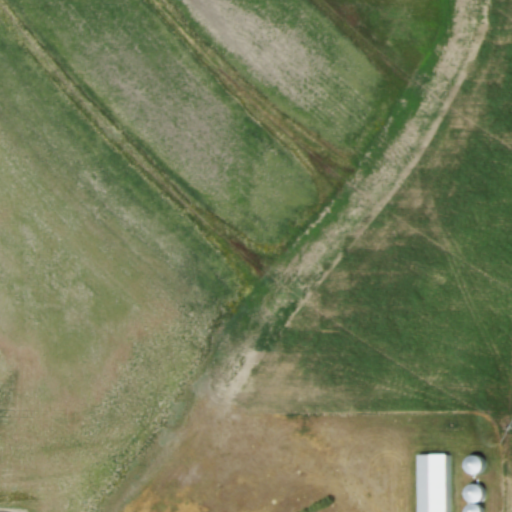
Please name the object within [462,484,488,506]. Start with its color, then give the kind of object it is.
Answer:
white silo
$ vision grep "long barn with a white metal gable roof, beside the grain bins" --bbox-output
[416,452,452,512]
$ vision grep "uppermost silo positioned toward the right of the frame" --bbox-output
[462,455,488,478]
